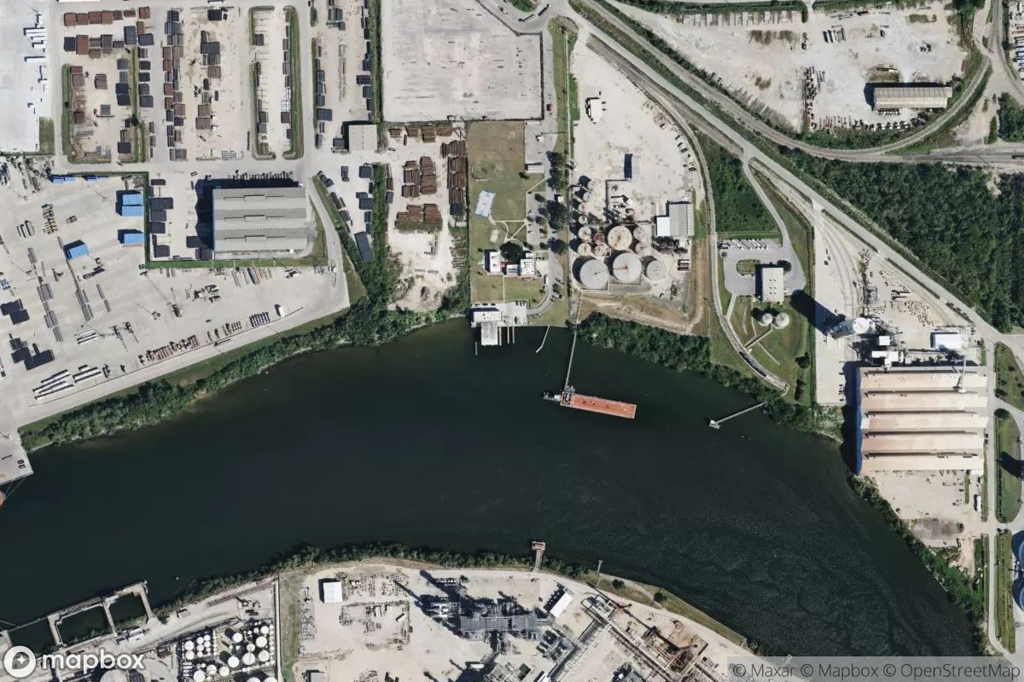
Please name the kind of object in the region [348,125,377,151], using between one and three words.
building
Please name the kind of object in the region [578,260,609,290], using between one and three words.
storage tank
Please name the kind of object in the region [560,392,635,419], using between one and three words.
ship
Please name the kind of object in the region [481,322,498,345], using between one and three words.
pier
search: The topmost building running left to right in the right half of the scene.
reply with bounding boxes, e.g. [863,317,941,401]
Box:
[871,87,953,110]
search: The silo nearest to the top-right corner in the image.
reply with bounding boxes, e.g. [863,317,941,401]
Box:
[835,318,873,340]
